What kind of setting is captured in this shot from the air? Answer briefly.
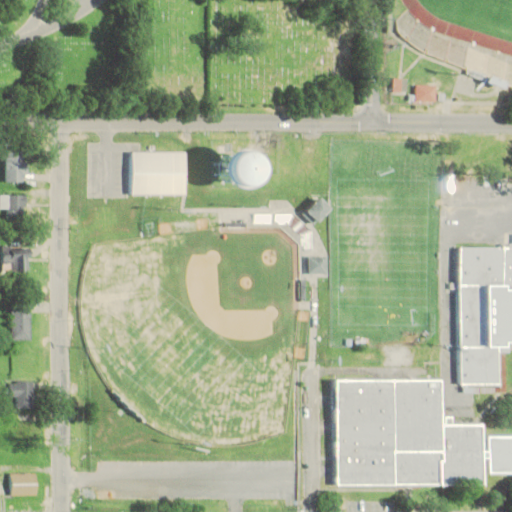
sports ground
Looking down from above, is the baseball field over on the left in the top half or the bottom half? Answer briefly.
bottom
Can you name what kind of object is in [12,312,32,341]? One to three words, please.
house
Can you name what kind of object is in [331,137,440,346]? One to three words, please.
sports field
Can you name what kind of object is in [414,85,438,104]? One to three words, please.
building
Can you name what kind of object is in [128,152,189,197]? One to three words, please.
building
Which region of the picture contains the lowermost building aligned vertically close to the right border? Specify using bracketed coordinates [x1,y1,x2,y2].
[448,247,512,384]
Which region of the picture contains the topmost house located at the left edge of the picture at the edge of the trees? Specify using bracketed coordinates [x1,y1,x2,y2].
[5,153,28,184]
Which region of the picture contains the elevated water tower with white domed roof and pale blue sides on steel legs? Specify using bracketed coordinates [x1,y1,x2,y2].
[220,150,268,192]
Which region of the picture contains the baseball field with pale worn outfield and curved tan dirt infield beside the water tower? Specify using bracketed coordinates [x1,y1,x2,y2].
[78,229,298,446]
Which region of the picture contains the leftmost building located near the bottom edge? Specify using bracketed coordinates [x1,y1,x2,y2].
[10,474,38,497]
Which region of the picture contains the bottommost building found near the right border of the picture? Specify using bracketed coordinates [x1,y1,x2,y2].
[332,380,512,486]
